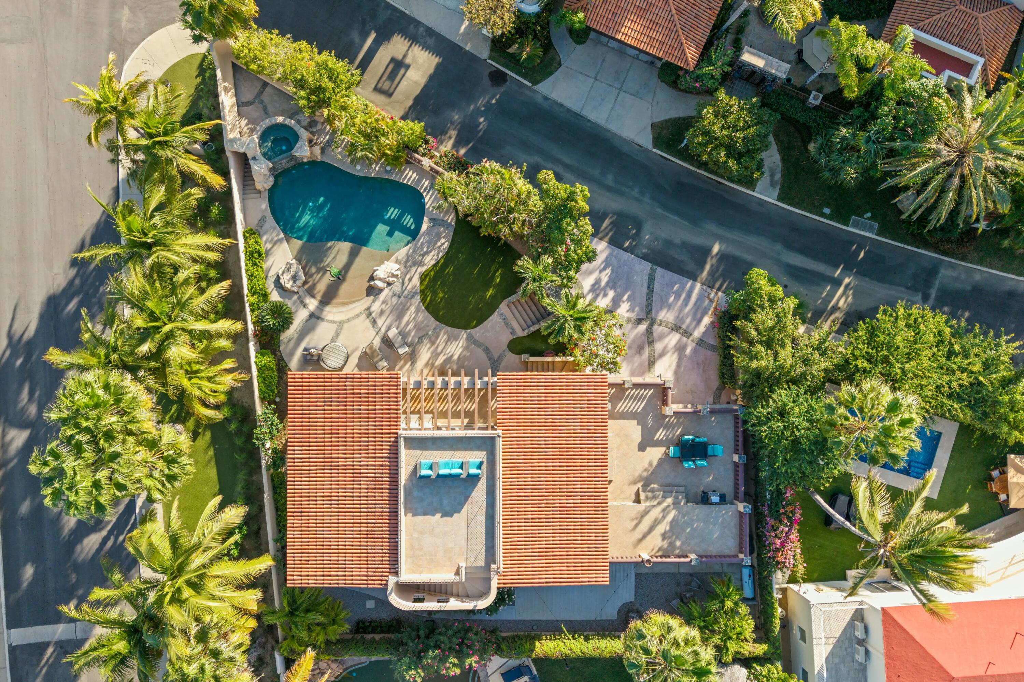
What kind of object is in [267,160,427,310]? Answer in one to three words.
swimming pool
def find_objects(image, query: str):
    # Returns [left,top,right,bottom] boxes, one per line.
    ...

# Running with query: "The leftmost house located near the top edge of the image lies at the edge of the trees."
[564,0,725,71]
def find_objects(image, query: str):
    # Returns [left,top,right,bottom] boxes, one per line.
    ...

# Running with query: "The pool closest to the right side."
[800,383,959,499]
